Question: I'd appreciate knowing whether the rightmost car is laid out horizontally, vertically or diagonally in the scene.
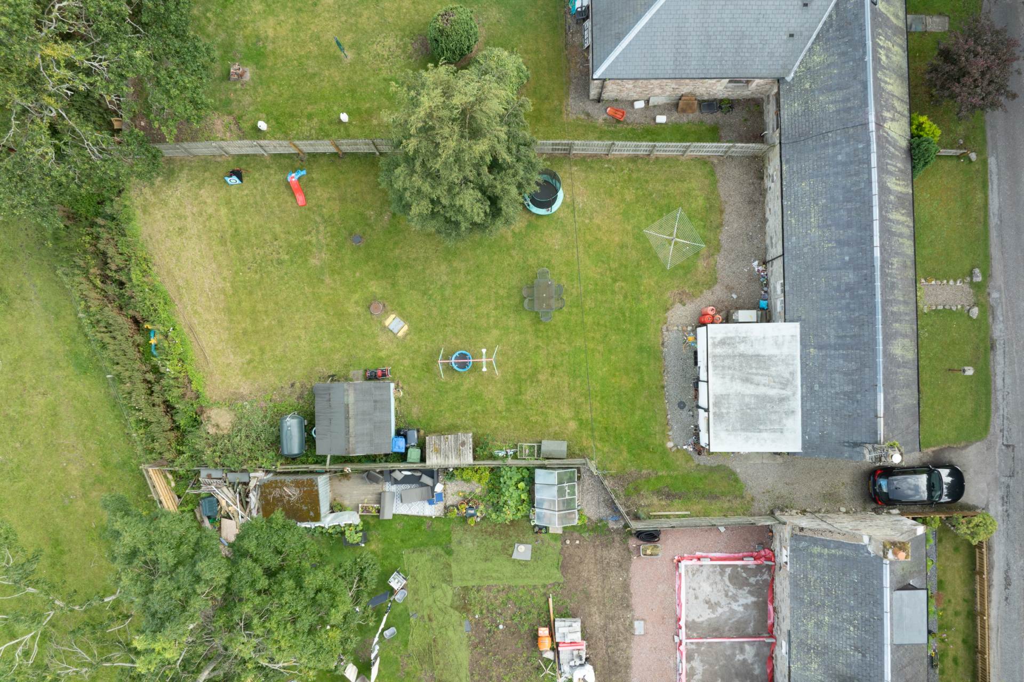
horizontally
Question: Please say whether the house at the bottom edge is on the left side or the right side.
right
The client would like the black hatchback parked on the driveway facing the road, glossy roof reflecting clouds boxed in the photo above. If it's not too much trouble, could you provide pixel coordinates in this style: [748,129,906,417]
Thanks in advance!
[867,460,966,511]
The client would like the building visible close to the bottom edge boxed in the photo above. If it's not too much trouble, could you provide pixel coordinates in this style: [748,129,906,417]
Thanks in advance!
[771,510,935,682]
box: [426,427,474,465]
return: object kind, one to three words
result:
building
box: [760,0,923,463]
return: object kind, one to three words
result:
house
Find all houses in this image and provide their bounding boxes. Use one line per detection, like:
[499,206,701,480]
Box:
[771,510,935,682]
[760,0,923,463]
